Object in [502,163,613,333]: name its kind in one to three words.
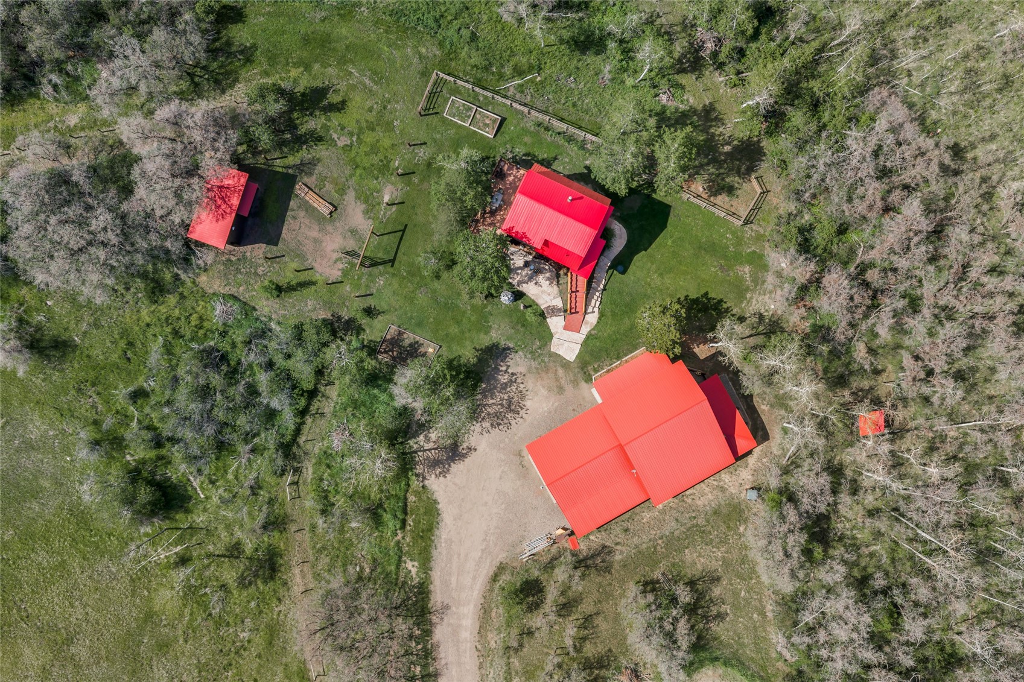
house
